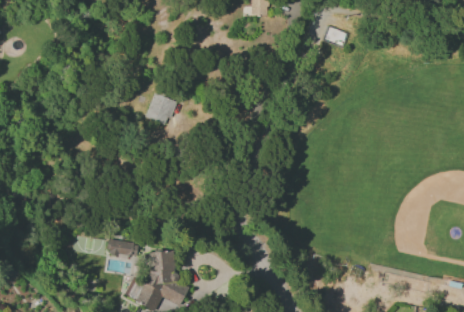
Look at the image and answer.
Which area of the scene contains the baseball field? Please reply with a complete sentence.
You can find the baseball field in the right area of the picture.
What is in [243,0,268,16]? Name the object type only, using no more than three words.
house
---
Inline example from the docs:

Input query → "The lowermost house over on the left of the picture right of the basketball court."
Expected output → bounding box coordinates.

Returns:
[125,250,190,312]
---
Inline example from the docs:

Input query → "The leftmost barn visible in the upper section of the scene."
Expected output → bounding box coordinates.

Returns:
[146,94,176,124]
